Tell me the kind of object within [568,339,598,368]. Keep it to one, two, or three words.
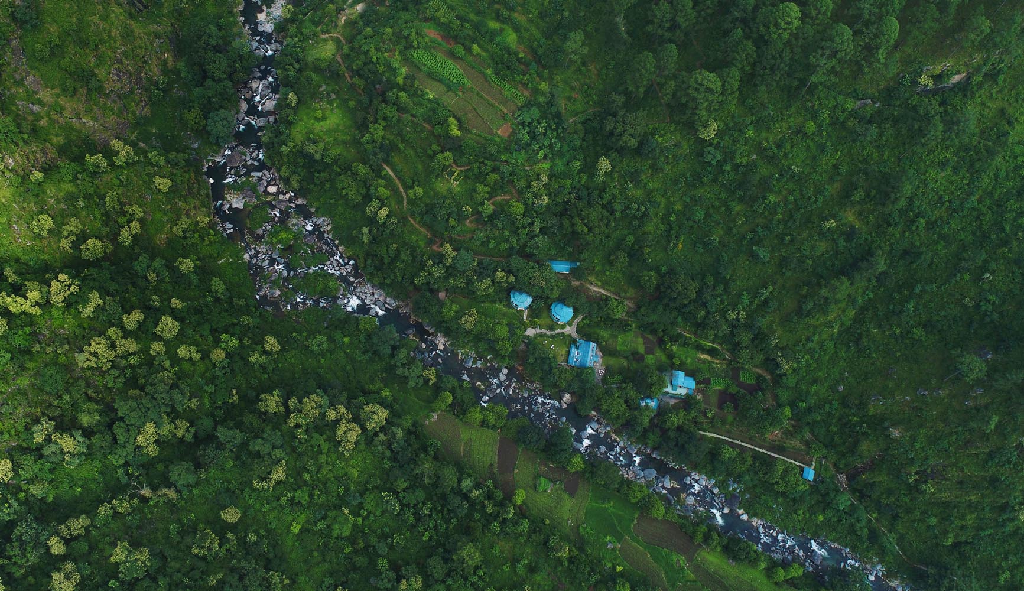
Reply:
house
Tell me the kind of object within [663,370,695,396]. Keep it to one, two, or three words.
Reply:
house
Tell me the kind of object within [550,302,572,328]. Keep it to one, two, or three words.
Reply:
shed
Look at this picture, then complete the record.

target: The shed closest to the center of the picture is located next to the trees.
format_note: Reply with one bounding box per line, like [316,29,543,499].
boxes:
[510,290,531,316]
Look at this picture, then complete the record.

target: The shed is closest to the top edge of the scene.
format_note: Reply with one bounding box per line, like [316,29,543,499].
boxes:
[548,261,580,274]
